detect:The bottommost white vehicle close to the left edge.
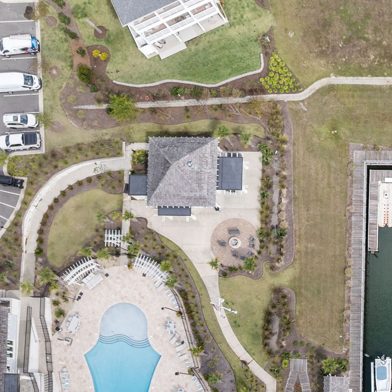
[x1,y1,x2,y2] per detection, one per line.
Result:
[0,132,44,152]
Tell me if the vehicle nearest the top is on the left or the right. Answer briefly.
left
